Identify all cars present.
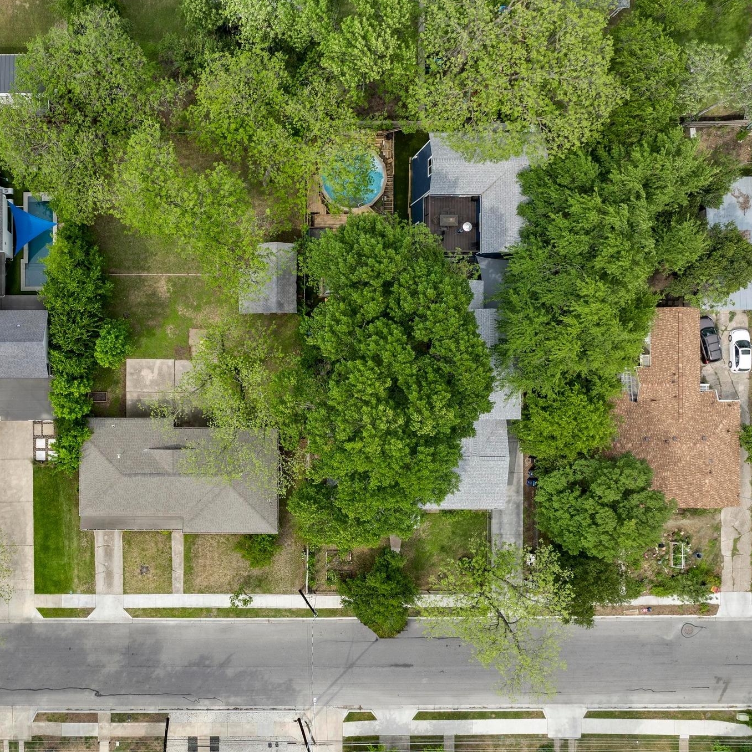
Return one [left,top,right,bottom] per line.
[700,318,724,363]
[728,331,752,372]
